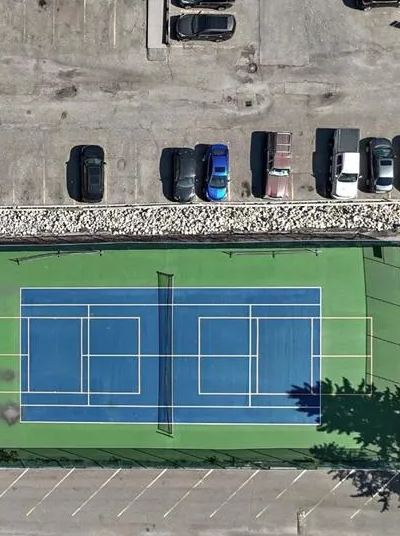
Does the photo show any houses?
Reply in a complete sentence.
No, there isn't any house down there.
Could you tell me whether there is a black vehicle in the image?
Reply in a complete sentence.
Yes, a black vehicle can be made out from above.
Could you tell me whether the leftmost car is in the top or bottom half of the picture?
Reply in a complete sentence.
The top half of the photo is where the leftmost car is.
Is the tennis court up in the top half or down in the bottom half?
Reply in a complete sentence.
It is in the bottom half that the tennis court appears.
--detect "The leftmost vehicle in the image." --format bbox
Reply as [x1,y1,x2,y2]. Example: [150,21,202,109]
[79,144,108,203]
